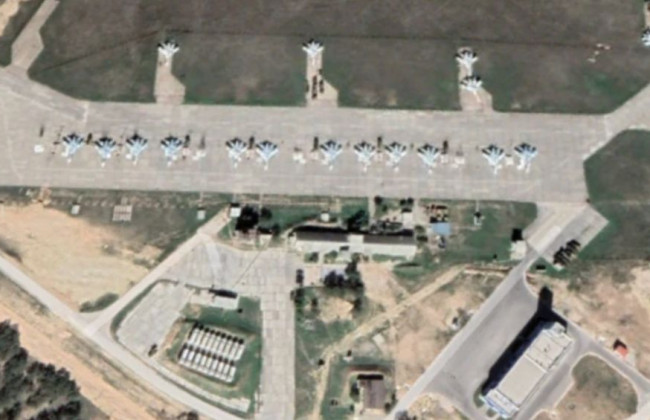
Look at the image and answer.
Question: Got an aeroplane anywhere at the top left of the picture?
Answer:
Yes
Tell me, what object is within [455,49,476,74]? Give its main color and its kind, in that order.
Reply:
white airplane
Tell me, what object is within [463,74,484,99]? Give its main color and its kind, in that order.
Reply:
white airplane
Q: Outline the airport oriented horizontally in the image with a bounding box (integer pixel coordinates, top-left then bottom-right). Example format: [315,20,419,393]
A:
[0,0,650,271]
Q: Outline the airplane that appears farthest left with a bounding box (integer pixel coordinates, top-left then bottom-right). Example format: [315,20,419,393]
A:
[62,135,84,161]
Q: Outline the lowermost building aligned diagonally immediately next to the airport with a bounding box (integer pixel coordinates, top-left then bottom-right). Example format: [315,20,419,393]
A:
[484,317,570,420]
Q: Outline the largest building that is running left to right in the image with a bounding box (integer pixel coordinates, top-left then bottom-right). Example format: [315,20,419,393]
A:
[296,232,416,261]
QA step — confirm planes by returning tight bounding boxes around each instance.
[515,146,536,172]
[226,140,248,167]
[385,144,406,169]
[321,141,341,167]
[128,137,149,163]
[95,139,116,164]
[455,49,476,74]
[303,38,324,63]
[463,74,484,99]
[418,146,439,172]
[354,143,375,169]
[482,147,503,173]
[62,135,84,161]
[256,142,277,168]
[637,30,650,55]
[161,138,182,164]
[159,38,180,63]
